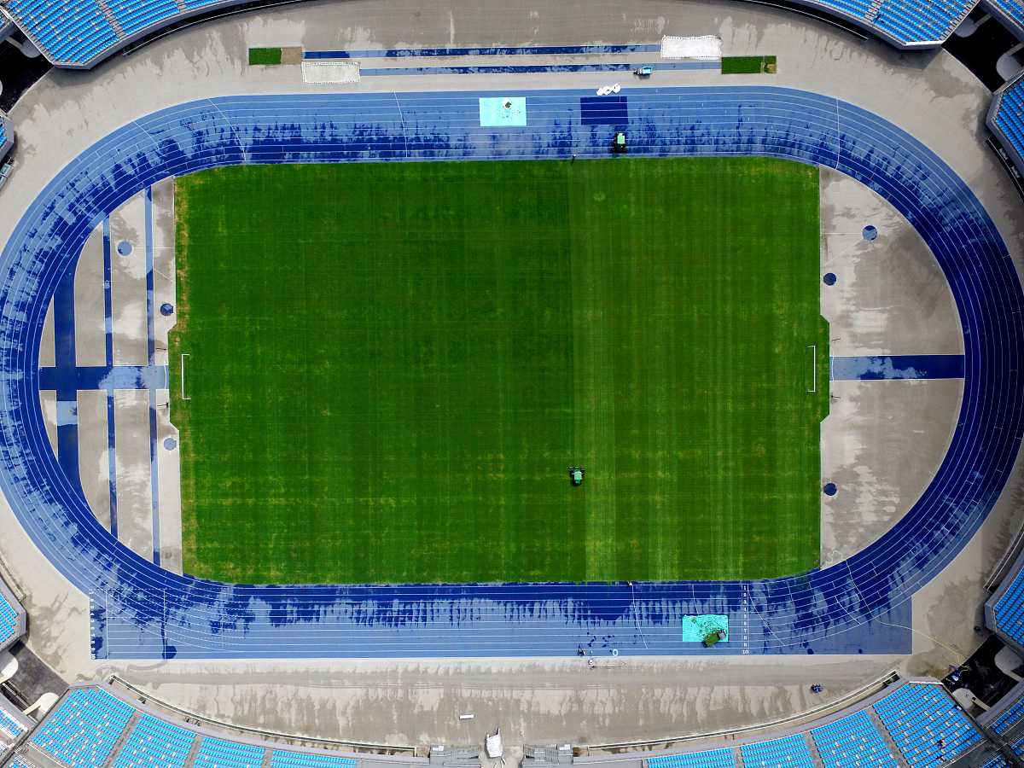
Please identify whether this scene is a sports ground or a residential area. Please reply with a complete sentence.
What you see here is a sports ground.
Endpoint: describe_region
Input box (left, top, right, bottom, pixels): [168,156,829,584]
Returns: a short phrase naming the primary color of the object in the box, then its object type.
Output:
green soccer field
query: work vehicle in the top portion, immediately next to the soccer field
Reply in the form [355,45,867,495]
[611,132,629,154]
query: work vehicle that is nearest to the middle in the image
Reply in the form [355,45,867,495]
[569,467,586,486]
